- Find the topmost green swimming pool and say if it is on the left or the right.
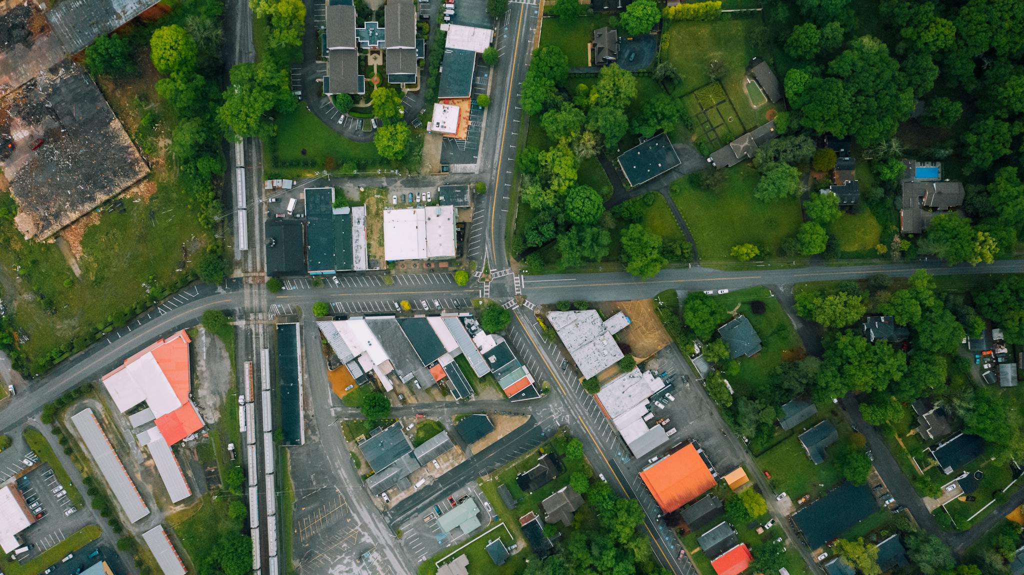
right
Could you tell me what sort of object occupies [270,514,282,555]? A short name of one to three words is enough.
rail car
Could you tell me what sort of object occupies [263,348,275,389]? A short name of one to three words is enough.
rail car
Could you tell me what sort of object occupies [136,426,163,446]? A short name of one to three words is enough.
shed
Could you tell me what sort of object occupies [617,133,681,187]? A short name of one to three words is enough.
house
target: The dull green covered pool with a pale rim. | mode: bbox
[746,78,768,107]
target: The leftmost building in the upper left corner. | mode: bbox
[46,0,178,61]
